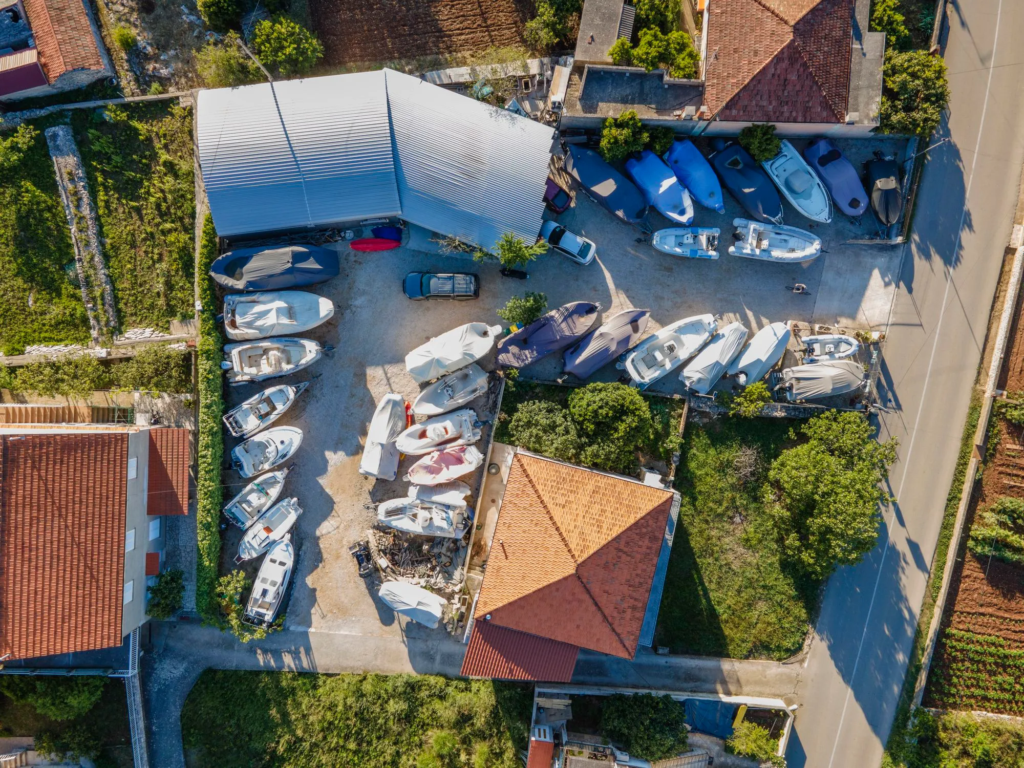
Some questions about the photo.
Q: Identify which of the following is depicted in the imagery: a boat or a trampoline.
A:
boat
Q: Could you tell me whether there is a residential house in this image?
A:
Yes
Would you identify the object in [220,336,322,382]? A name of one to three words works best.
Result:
boat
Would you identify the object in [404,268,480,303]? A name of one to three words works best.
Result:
truck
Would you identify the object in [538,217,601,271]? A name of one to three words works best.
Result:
car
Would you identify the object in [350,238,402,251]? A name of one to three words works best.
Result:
boat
